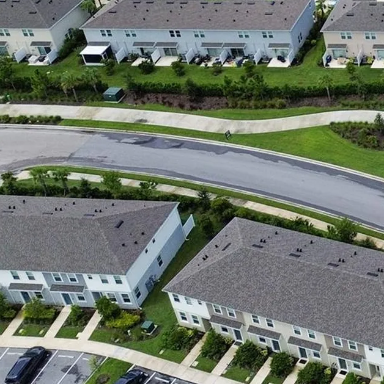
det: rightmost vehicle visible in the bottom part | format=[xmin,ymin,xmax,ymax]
[111,368,150,384]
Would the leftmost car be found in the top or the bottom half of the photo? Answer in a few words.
bottom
